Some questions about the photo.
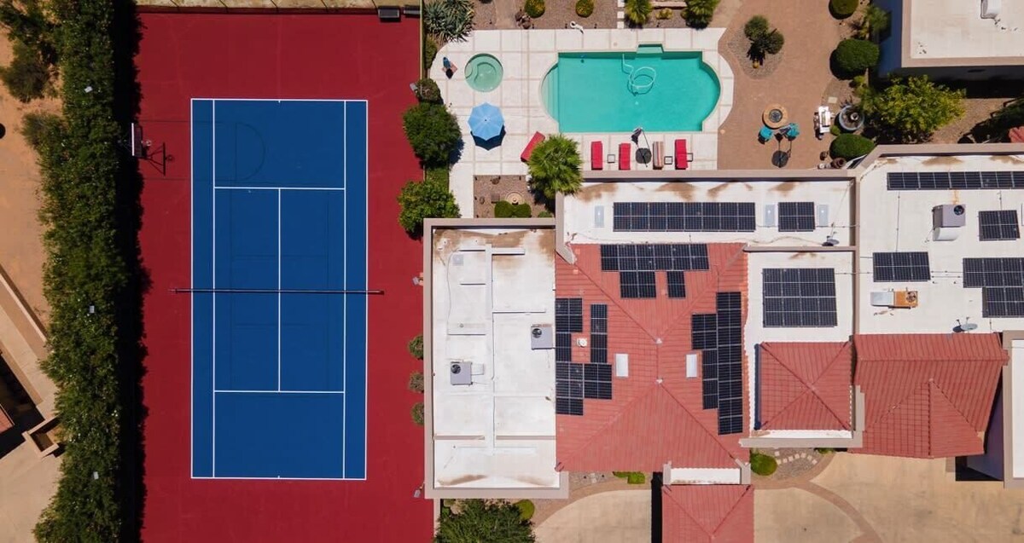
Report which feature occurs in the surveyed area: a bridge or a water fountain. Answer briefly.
water fountain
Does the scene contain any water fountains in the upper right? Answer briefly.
Yes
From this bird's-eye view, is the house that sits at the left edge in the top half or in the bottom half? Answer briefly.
bottom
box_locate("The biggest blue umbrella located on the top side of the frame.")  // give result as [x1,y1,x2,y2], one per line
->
[467,103,505,140]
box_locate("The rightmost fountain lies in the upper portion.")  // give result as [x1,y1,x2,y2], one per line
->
[837,105,863,130]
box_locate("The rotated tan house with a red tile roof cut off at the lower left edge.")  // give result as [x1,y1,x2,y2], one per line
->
[0,361,43,449]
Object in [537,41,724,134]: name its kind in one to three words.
swimming pool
